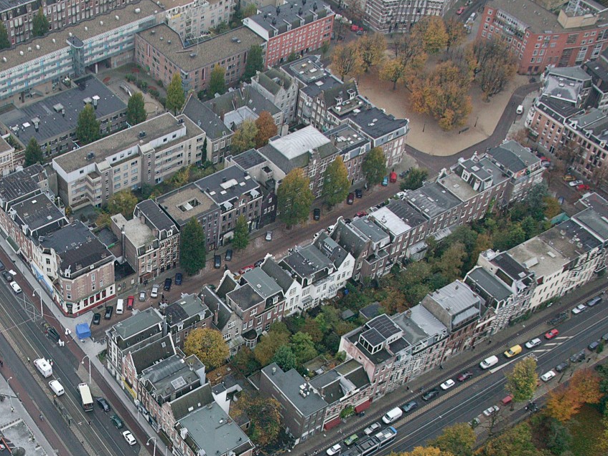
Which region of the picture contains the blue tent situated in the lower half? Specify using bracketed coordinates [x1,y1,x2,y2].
[71,323,95,345]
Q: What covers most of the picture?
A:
buildings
